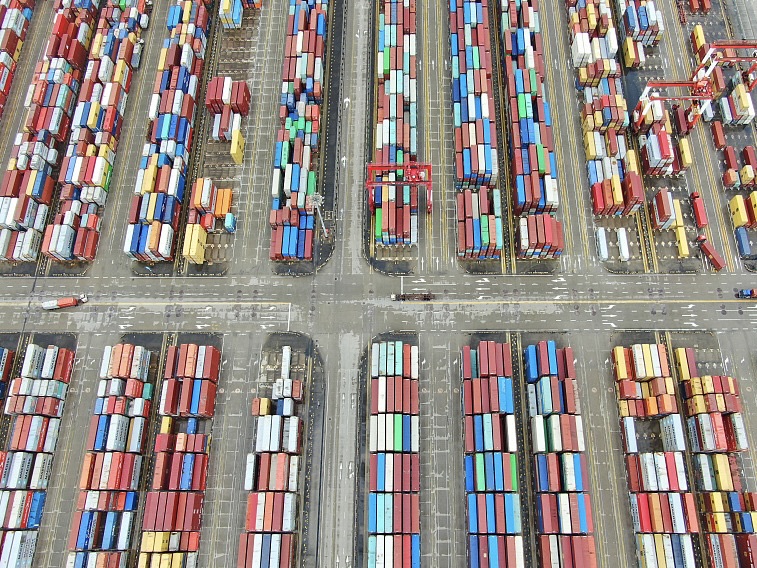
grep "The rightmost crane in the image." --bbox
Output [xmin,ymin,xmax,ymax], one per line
[690,37,757,93]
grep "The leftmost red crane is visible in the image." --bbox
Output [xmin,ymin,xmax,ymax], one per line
[368,162,432,214]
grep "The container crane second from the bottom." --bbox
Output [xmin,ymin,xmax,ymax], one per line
[631,77,710,131]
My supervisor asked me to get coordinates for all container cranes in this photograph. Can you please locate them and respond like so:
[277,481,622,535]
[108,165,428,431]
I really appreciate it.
[631,77,710,131]
[690,37,757,93]
[368,162,432,214]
